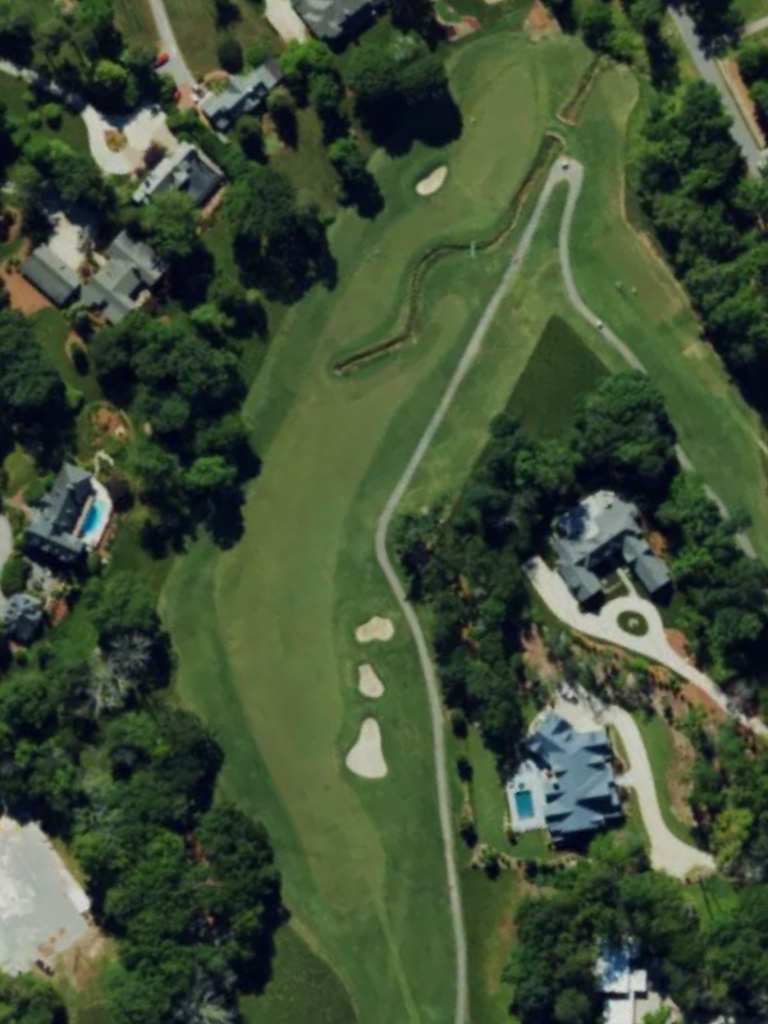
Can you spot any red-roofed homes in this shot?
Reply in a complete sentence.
No, the frame has no red-roofed home in it.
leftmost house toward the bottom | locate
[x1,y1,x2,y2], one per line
[0,592,47,638]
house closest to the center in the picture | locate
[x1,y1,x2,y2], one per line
[545,493,676,599]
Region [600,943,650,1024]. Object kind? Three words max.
house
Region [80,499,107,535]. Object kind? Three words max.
swimming pool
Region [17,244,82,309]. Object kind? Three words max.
building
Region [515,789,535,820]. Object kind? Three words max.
swimming pool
